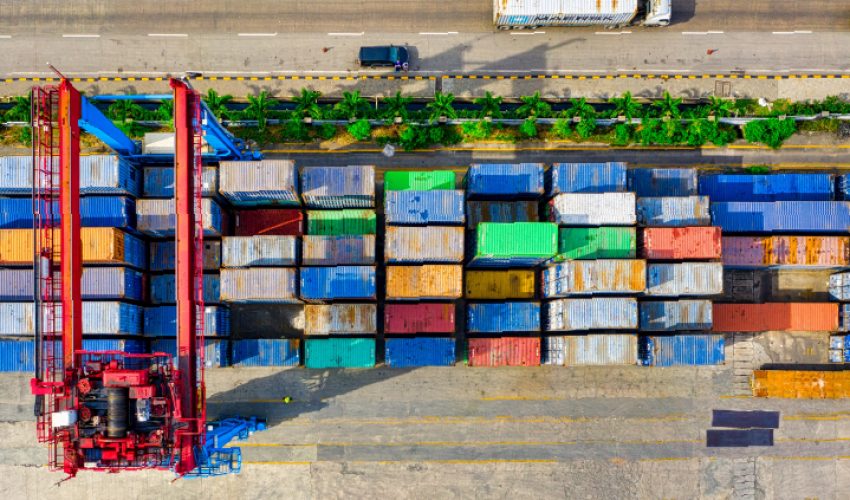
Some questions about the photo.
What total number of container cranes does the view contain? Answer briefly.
one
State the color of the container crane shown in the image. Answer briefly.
red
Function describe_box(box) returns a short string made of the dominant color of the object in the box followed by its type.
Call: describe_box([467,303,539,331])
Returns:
blue shipping container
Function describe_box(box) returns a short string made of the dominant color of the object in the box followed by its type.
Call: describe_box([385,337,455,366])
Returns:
blue shipping container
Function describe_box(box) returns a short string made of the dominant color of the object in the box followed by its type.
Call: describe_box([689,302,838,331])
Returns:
red shipping container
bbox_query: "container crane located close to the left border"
[32,69,272,488]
